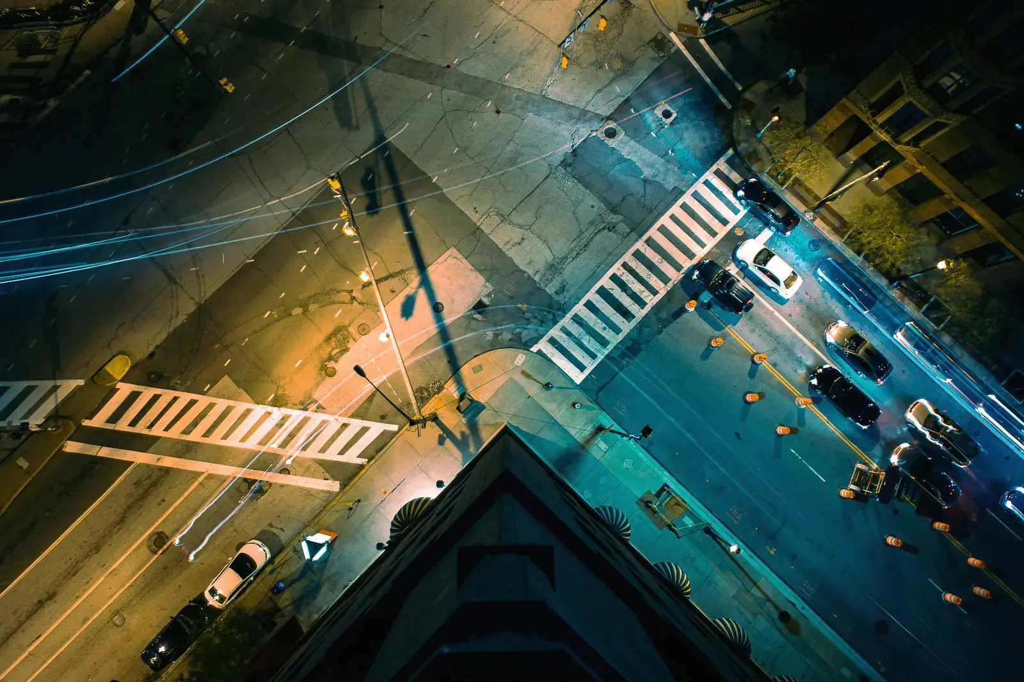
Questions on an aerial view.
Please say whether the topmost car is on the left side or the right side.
right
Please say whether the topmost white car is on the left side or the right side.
right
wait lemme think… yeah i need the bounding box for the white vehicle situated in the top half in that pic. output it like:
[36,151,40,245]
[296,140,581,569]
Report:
[731,240,802,302]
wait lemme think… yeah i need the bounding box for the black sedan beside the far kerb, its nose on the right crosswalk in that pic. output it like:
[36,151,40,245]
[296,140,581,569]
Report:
[731,178,804,238]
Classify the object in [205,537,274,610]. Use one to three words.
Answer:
car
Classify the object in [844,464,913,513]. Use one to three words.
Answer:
trailer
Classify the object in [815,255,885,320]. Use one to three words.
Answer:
car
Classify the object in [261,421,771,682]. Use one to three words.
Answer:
building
